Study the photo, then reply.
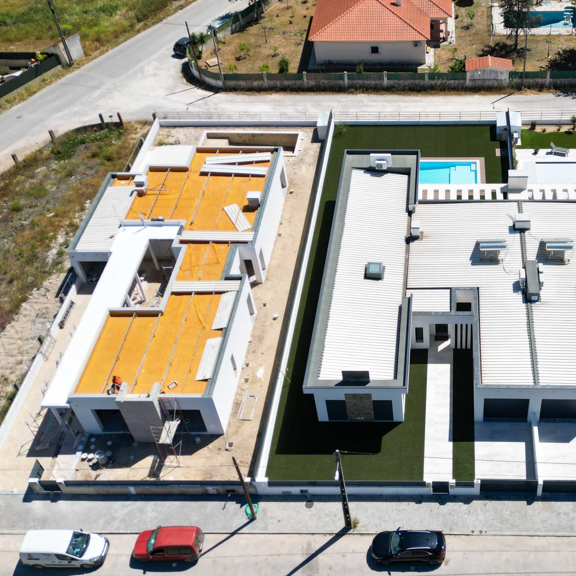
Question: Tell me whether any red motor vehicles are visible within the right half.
No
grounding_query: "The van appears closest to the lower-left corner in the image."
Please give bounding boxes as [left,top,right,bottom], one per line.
[12,523,111,568]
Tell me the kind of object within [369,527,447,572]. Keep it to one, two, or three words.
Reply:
car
